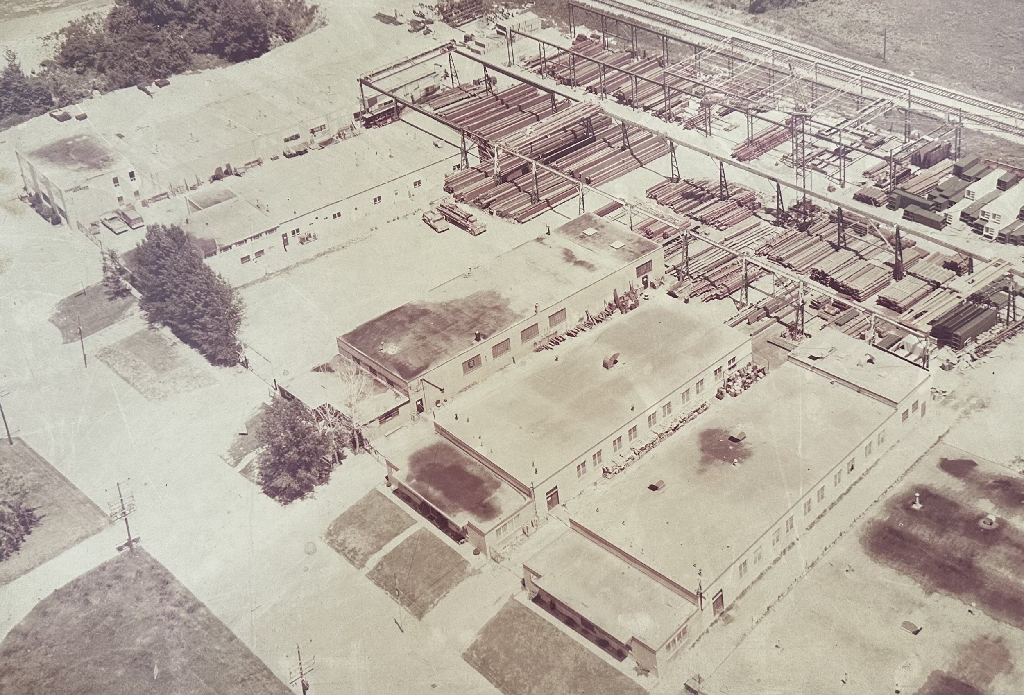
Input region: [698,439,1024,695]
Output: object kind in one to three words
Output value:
warehouse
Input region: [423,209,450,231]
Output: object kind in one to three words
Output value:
truck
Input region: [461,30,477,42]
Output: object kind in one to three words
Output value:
vehicle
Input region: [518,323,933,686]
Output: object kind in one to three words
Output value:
building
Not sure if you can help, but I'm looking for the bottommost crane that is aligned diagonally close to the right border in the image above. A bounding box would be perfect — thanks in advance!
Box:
[897,255,1018,336]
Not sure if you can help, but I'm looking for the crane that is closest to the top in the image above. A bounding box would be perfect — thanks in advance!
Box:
[359,41,464,88]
